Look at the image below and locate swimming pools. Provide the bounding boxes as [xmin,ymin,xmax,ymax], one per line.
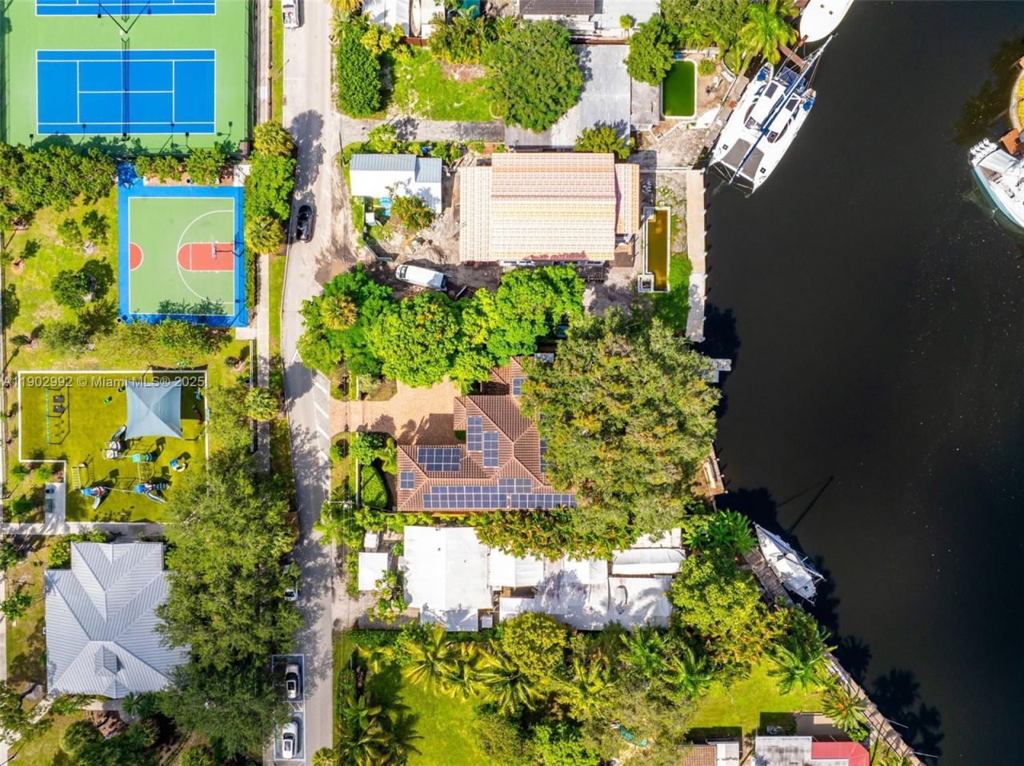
[643,205,671,291]
[638,274,654,292]
[661,58,697,119]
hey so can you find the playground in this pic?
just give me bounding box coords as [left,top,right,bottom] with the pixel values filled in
[20,373,205,522]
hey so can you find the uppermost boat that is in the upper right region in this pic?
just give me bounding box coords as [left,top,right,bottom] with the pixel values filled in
[798,0,851,47]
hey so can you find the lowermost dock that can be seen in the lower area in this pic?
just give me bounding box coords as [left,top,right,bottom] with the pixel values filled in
[820,653,924,766]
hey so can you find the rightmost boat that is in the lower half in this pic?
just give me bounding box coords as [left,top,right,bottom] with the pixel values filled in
[756,524,826,605]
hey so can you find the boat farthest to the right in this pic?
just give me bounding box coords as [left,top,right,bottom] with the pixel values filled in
[971,134,1024,224]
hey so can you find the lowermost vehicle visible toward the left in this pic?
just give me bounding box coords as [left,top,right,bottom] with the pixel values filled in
[278,722,298,761]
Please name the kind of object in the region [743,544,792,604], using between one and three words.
pier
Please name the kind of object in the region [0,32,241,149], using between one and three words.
tennis court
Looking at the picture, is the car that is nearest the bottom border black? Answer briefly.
No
